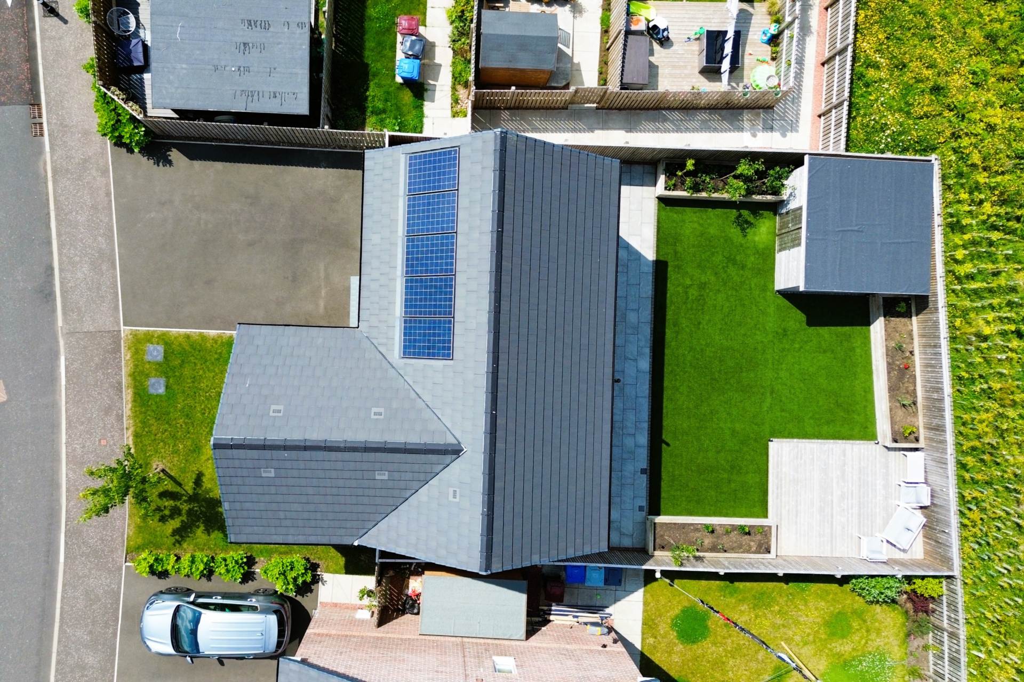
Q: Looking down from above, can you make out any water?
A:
No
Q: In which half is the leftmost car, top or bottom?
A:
bottom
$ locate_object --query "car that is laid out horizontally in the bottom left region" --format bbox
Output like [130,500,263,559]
[136,588,293,665]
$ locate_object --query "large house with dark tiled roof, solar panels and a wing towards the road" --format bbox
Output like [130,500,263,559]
[207,128,626,575]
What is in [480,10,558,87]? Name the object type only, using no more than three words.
shed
